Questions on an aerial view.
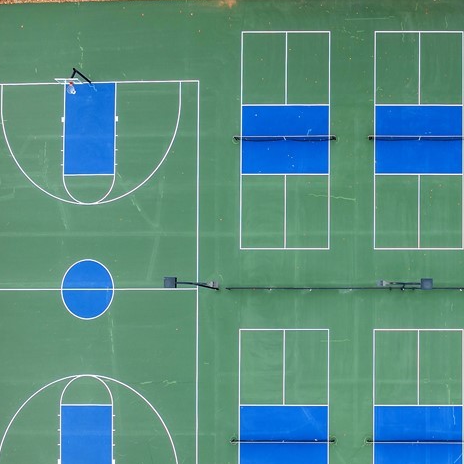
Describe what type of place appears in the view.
sports ground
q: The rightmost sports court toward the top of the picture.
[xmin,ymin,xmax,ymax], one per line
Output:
[374,31,464,249]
